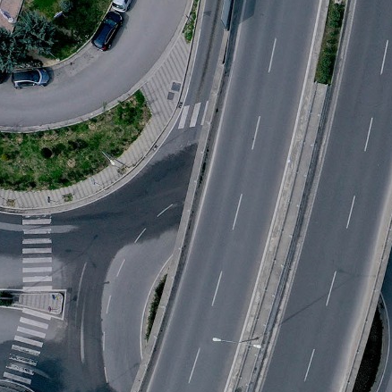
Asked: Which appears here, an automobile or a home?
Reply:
automobile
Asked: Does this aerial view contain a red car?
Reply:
No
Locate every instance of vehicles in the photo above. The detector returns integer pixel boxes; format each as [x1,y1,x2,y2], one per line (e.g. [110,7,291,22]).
[93,10,123,52]
[113,0,132,13]
[13,67,54,88]
[0,67,8,84]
